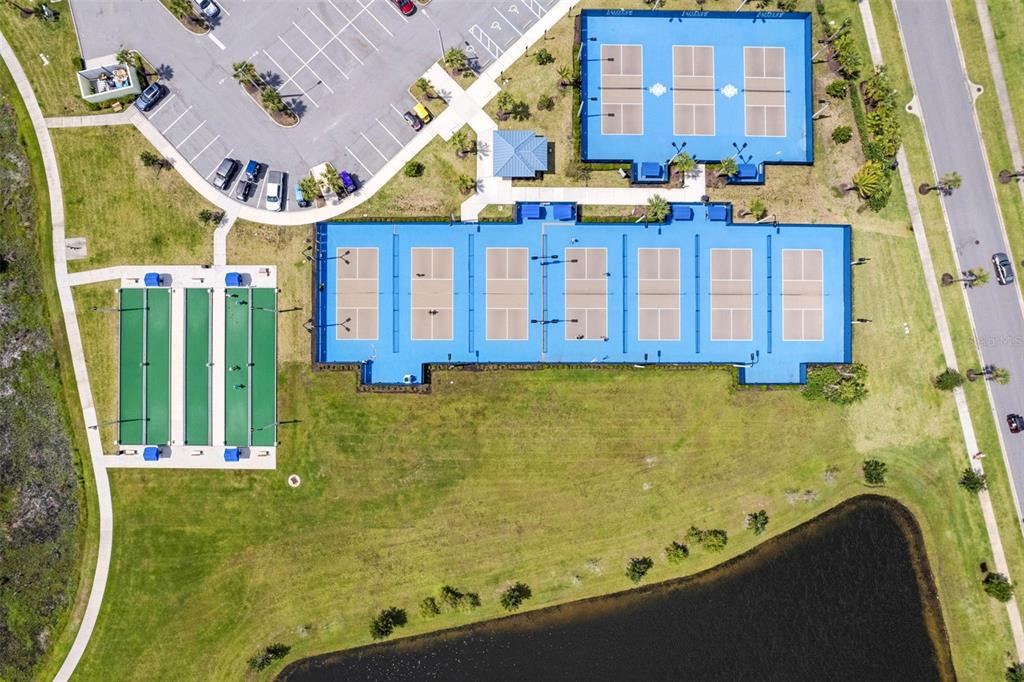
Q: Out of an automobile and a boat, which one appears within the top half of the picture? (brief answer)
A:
automobile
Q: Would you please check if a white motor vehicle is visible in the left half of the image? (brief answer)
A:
Yes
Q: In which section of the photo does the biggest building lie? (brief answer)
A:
top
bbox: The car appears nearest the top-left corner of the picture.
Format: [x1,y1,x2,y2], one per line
[132,78,163,109]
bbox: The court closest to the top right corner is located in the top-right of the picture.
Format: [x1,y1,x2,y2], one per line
[743,46,791,137]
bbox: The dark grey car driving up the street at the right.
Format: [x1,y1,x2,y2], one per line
[993,253,1015,285]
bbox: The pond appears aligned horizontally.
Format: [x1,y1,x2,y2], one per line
[289,499,944,682]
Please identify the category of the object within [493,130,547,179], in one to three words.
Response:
building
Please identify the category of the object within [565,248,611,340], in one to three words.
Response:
sports court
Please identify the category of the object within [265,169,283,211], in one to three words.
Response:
vehicle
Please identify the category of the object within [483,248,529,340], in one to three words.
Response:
sports court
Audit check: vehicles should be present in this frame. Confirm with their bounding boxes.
[403,108,421,129]
[415,101,432,121]
[213,156,237,190]
[993,253,1015,285]
[236,180,253,199]
[196,0,219,17]
[1008,414,1024,434]
[338,171,357,191]
[244,161,261,182]
[292,184,308,204]
[132,78,163,109]
[265,169,283,211]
